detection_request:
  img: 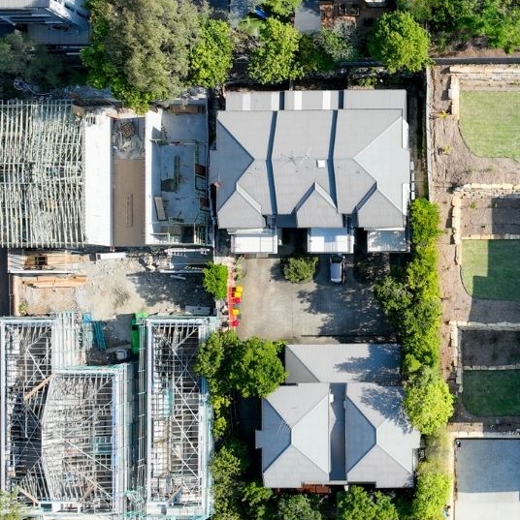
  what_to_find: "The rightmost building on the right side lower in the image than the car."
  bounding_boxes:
[255,343,422,494]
